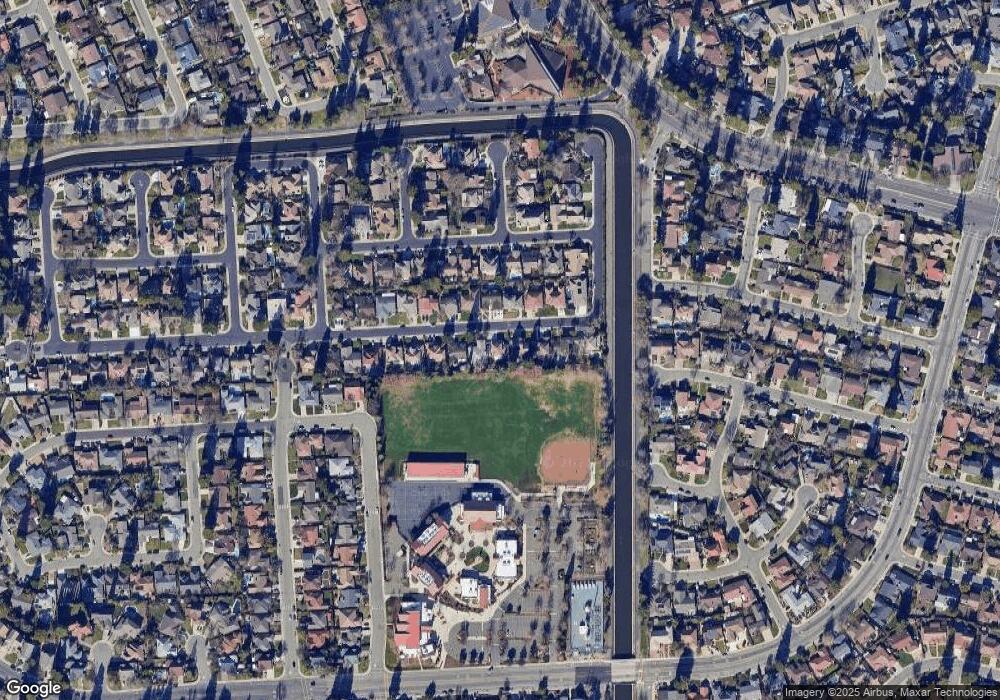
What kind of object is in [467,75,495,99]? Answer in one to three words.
building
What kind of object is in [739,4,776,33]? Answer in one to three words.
house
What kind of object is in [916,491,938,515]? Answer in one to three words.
house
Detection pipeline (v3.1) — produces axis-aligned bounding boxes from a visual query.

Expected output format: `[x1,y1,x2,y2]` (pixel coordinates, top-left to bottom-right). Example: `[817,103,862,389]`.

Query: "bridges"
[611,658,636,684]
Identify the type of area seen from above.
residential area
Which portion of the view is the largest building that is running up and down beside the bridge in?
bottom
